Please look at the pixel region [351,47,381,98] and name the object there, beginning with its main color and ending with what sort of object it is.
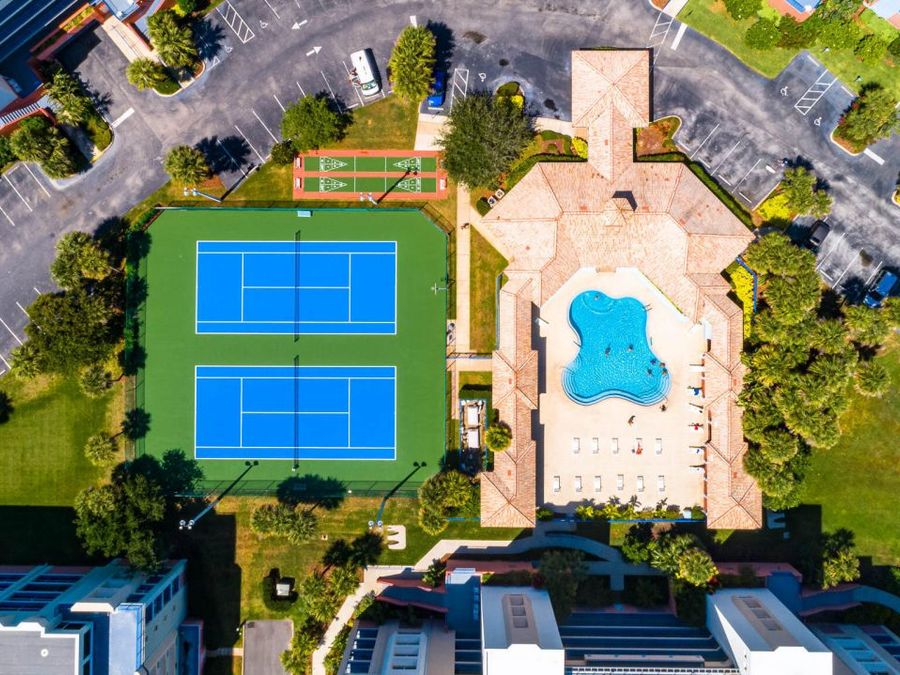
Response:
white van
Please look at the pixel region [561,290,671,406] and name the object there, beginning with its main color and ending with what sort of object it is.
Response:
blue swimming pool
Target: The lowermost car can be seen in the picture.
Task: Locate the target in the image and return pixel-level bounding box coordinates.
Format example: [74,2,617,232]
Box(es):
[864,267,900,307]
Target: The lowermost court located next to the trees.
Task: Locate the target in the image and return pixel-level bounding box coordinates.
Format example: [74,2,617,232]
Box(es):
[135,349,447,489]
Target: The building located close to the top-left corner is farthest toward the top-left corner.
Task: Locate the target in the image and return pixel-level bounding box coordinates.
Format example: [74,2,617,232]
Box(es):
[0,0,149,117]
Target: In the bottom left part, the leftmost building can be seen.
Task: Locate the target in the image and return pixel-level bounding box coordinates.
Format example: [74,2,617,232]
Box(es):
[0,559,204,675]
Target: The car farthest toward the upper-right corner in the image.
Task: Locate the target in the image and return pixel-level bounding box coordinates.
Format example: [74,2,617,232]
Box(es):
[805,215,840,253]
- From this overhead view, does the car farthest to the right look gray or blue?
blue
